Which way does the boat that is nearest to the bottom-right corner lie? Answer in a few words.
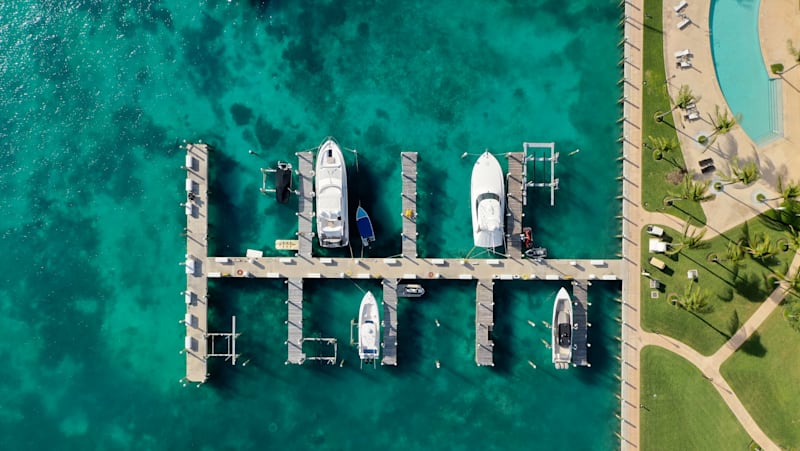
vertically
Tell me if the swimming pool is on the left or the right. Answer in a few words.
right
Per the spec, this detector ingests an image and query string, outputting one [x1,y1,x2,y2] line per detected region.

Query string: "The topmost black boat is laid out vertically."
[276,160,291,203]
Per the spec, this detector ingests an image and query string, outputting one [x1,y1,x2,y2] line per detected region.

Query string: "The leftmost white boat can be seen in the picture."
[316,136,351,249]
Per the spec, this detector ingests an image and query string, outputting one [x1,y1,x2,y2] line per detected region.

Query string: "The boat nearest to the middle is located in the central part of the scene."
[359,208,377,248]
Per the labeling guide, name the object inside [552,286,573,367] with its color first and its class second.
white boat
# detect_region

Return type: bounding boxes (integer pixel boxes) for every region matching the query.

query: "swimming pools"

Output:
[706,0,786,148]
